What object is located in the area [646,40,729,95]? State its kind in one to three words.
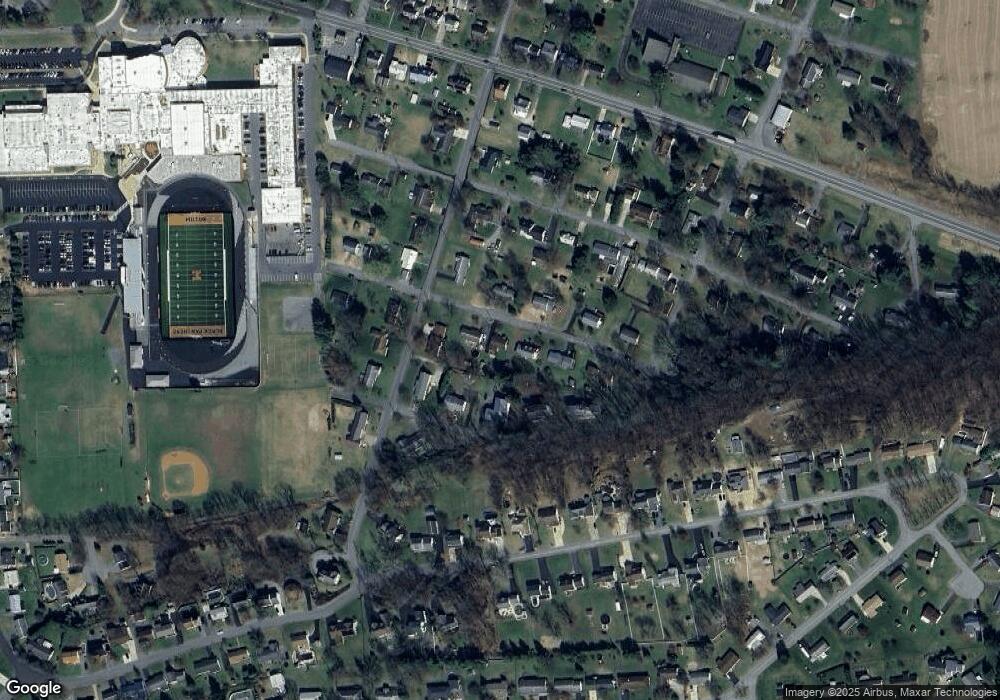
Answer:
building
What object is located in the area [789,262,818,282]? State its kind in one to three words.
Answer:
house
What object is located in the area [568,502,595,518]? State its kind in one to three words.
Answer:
house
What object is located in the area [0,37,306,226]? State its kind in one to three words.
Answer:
building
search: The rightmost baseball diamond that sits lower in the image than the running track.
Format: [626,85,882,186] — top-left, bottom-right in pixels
[160,450,208,500]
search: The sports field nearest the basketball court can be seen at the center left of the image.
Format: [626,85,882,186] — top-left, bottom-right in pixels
[159,212,235,342]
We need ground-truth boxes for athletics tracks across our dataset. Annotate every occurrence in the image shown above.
[136,176,259,387]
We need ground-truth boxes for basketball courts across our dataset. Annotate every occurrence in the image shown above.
[283,297,312,331]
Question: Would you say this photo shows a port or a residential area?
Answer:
residential area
